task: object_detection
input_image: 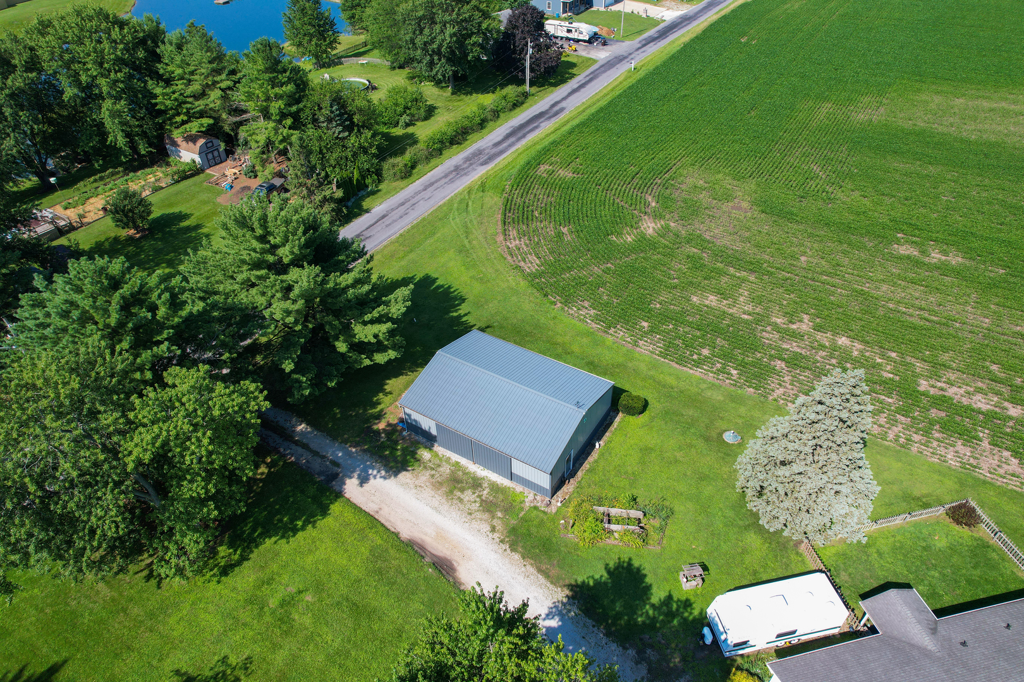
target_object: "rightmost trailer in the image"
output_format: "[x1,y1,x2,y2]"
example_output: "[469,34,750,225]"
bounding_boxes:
[695,570,850,655]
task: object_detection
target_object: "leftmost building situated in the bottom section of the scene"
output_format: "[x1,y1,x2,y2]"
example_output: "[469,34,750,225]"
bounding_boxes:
[400,328,616,500]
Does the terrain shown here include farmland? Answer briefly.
Yes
